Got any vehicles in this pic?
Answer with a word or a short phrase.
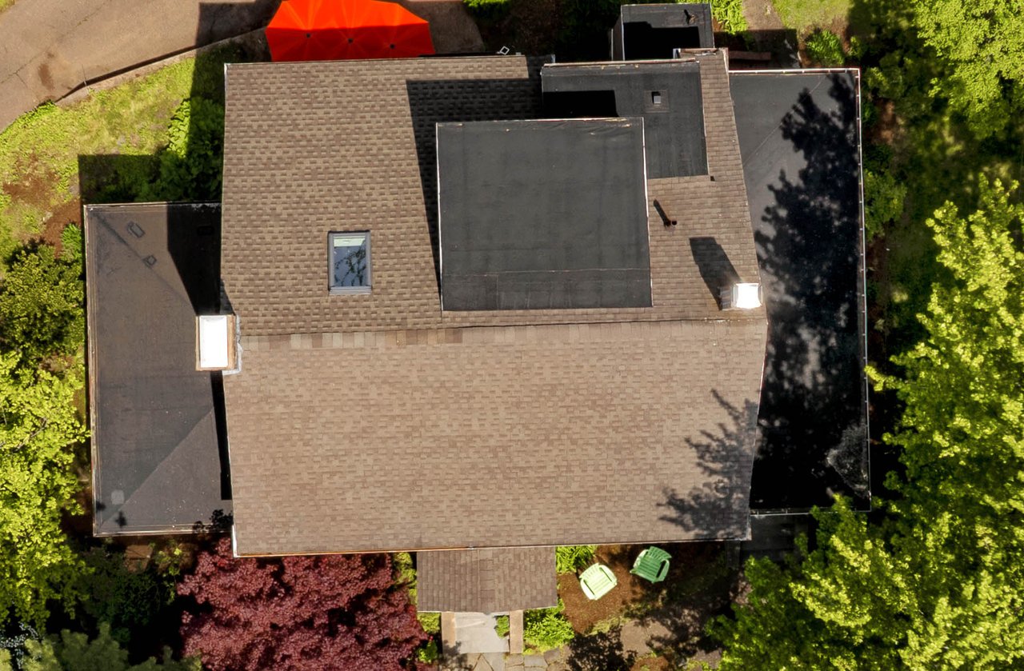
No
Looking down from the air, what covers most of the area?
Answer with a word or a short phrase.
buildings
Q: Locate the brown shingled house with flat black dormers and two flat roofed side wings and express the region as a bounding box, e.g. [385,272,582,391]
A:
[84,3,871,618]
